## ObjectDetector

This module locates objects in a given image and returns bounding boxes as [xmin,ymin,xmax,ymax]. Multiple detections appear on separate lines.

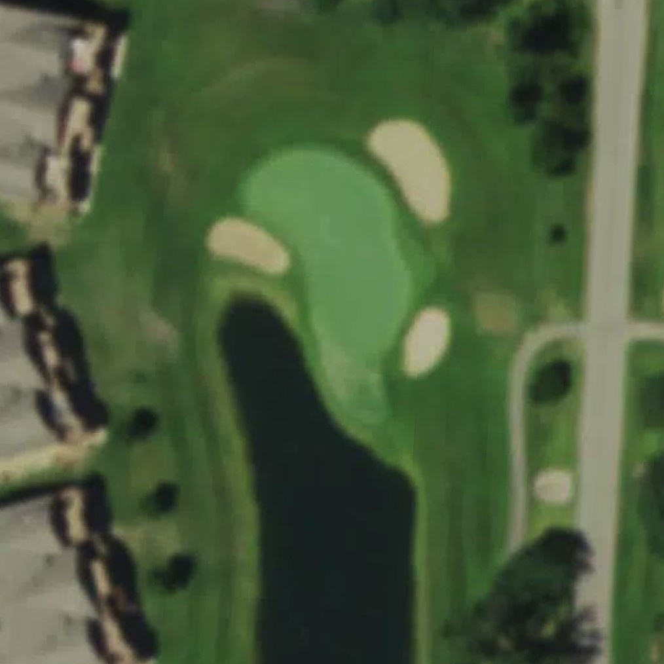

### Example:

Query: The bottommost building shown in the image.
[0,485,132,664]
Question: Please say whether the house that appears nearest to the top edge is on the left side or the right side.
left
